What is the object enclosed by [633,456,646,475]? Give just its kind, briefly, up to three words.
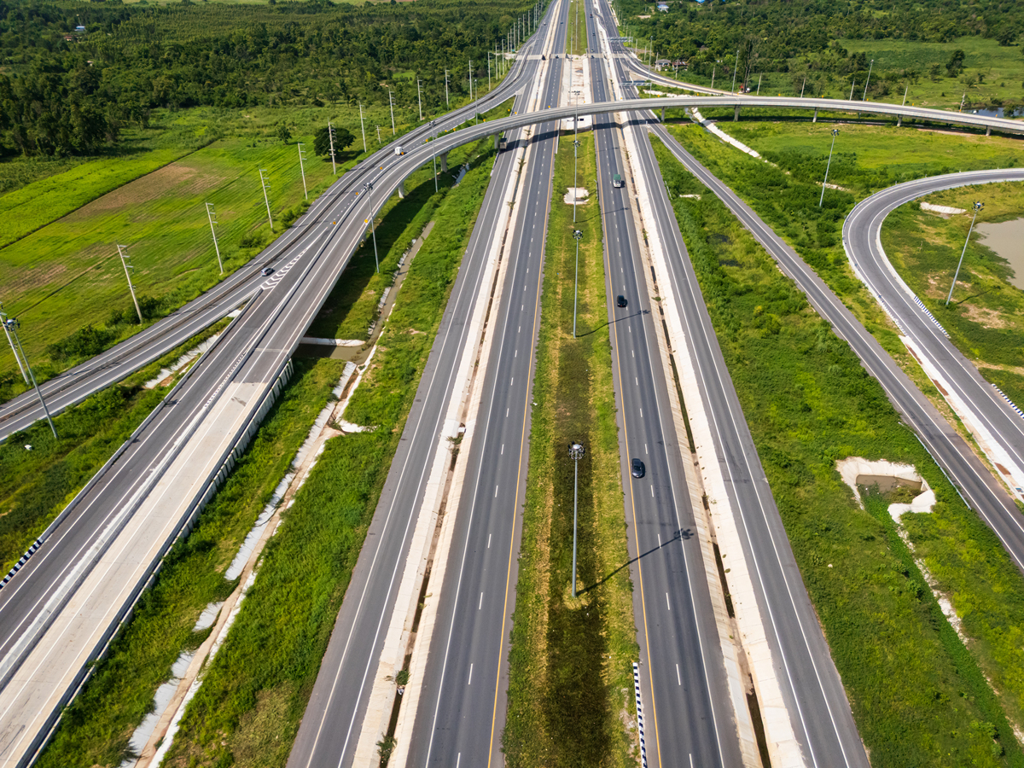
vehicle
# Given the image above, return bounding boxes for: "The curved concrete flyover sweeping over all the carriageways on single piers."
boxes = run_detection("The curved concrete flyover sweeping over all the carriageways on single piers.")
[224,96,1024,388]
